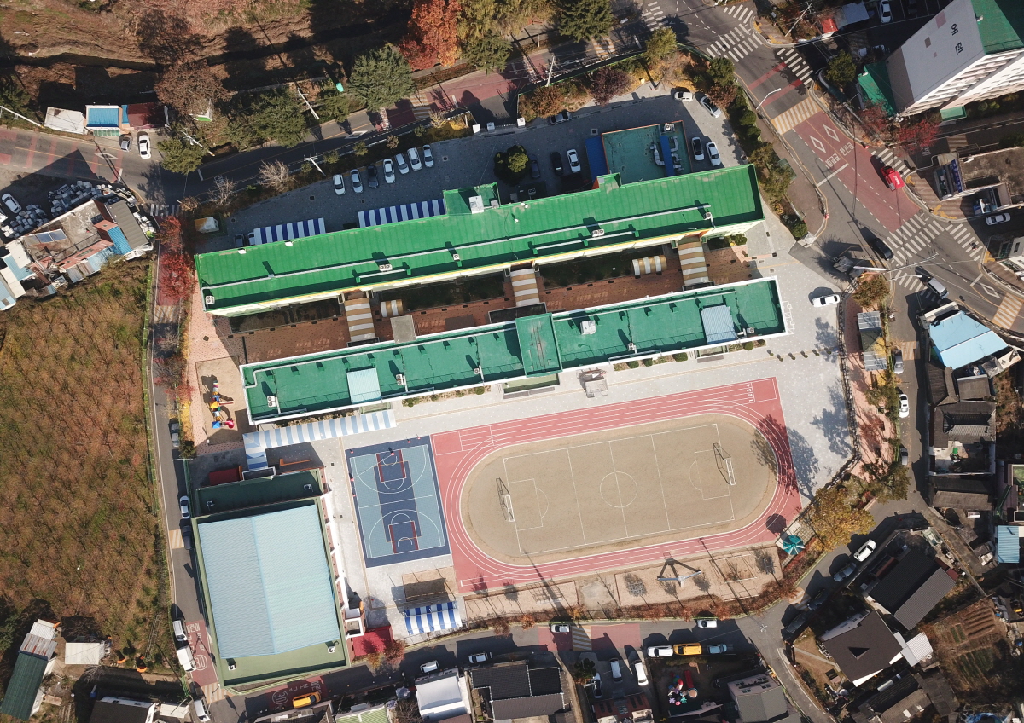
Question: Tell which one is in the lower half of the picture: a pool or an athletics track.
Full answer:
There is an athletics track in the lower half of the picture.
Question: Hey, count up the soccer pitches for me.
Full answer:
Only 1 soccer pitch is visible.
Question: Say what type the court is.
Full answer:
The court appears to be a basketball court.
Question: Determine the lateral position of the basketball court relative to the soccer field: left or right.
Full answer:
From the viewer's perspective, the basketball court falls to the left of the soccer field.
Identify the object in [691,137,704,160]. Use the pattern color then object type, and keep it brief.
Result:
black vehicle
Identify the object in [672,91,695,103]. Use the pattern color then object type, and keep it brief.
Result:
white vehicle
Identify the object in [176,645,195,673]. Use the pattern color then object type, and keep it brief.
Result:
white vehicle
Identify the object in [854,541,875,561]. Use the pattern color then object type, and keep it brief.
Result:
white car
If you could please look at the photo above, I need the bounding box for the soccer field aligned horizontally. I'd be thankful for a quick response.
[462,412,776,565]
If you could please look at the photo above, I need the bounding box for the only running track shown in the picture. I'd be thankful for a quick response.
[432,377,802,593]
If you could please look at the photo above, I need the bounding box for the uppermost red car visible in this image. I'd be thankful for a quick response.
[882,168,900,187]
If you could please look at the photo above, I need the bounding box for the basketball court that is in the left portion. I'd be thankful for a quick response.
[345,436,451,568]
